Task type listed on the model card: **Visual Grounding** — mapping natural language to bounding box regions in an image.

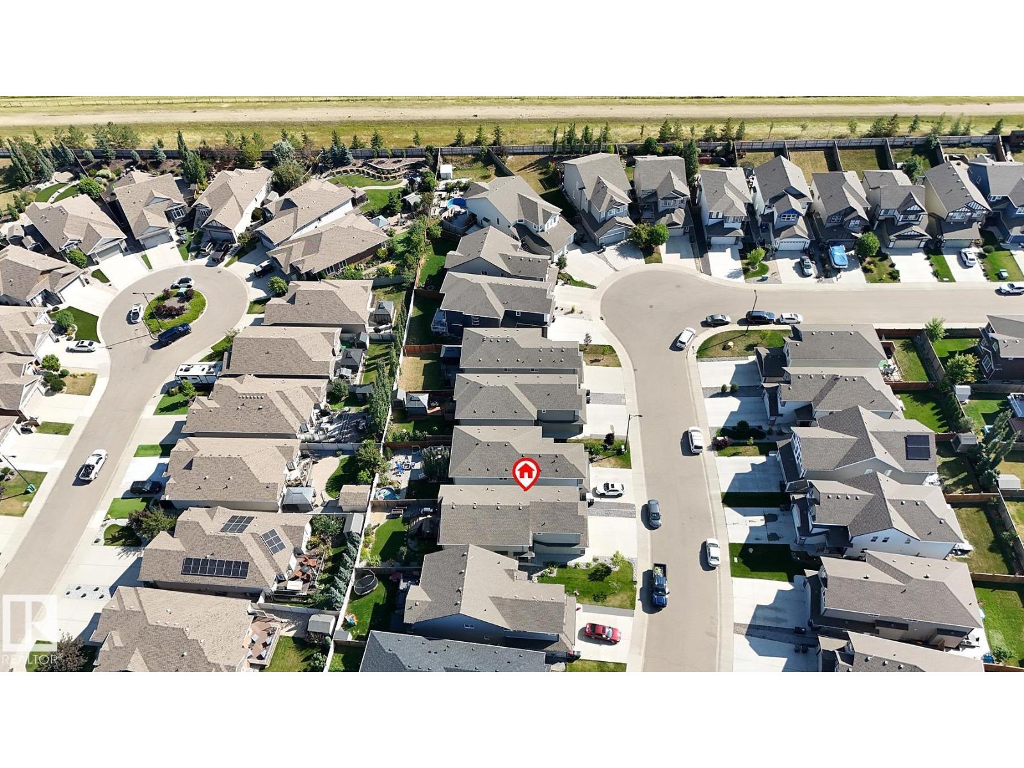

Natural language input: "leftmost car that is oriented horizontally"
[67,340,97,353]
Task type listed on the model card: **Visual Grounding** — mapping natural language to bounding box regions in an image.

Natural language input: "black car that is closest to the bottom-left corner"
[128,478,163,495]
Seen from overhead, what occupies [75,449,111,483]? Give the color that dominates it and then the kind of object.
white truck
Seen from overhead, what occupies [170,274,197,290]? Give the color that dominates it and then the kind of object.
white car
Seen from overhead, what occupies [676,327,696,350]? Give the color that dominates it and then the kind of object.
white vehicle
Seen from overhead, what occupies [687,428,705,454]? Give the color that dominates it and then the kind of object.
white car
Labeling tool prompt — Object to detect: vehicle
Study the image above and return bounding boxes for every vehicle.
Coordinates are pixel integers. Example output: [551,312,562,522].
[128,478,163,495]
[651,563,669,609]
[593,481,627,499]
[644,498,662,529]
[251,258,274,275]
[208,241,231,262]
[197,238,217,257]
[130,304,145,324]
[799,256,814,275]
[170,274,197,290]
[958,248,977,267]
[997,282,1024,296]
[156,323,194,344]
[746,310,775,324]
[75,449,111,483]
[777,312,804,324]
[67,340,97,353]
[676,327,696,350]
[703,538,721,570]
[687,428,705,454]
[703,313,732,327]
[583,621,622,645]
